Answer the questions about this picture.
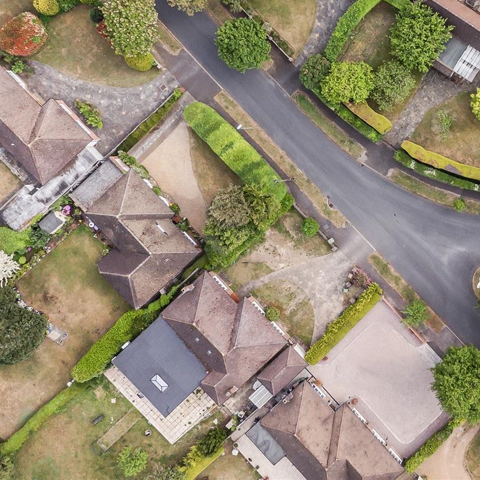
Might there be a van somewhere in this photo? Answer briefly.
No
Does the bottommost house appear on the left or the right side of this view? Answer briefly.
right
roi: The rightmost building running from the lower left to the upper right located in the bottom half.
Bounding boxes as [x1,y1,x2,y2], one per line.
[248,339,310,408]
